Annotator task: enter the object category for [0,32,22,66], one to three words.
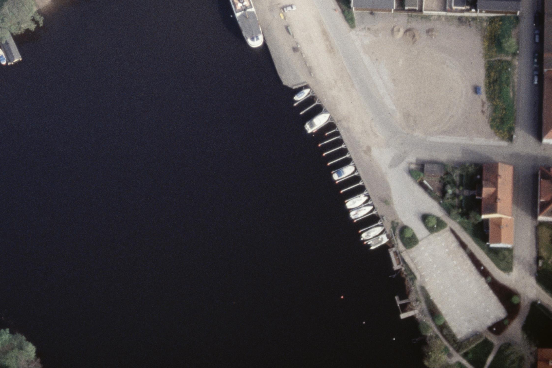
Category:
building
